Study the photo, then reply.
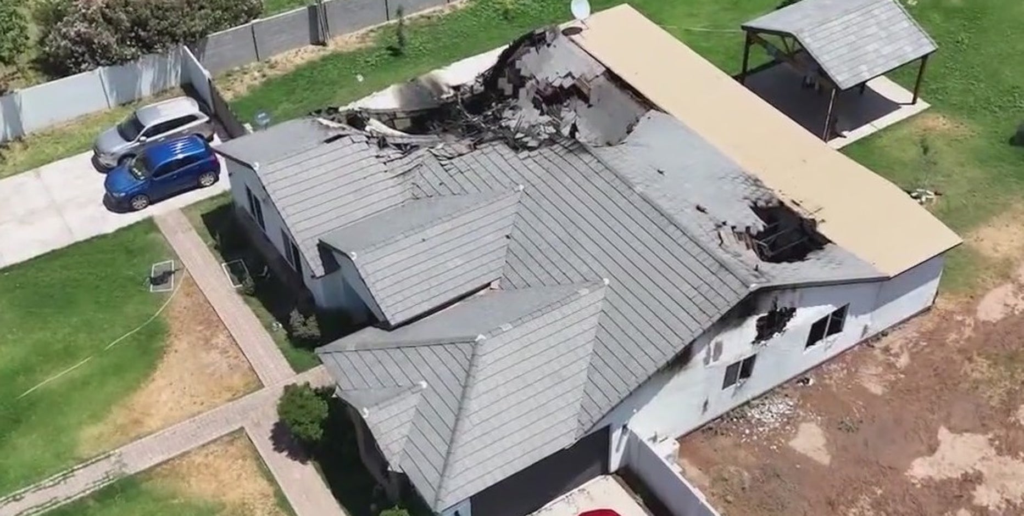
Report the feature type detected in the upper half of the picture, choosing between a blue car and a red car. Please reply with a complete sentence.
The feature located in the upper half of the picture is a blue car.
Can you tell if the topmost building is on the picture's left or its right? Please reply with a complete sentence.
The topmost building is on the right side of the image.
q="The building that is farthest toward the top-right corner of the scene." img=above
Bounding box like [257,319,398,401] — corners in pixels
[730,0,943,141]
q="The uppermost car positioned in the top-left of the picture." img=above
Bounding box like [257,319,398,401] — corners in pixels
[87,89,217,170]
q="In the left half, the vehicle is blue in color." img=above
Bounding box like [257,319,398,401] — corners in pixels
[100,132,222,209]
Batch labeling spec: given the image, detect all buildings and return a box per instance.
[215,7,967,516]
[730,0,943,141]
